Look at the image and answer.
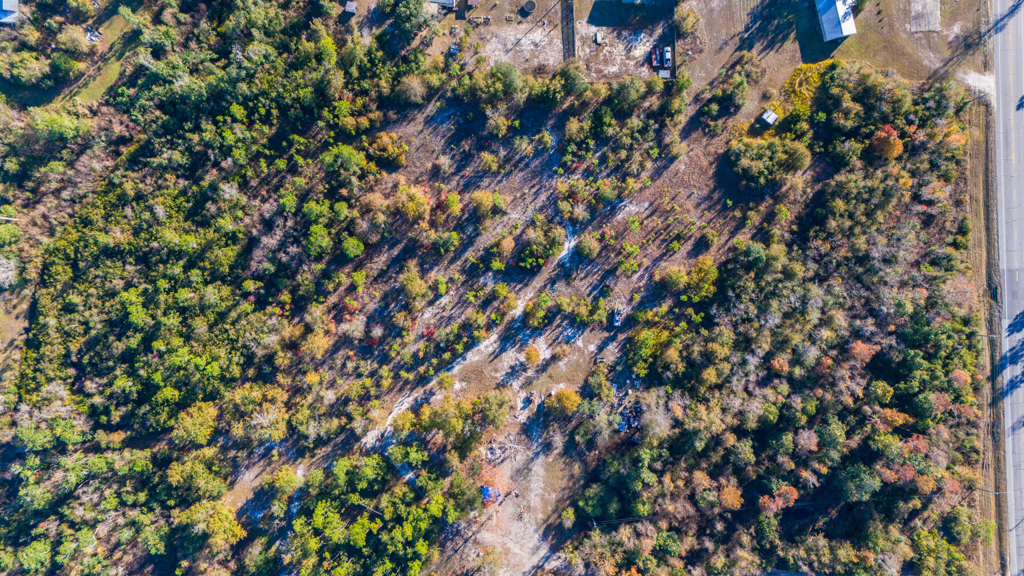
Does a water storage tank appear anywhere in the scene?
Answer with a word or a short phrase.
No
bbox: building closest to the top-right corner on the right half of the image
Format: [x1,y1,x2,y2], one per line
[811,0,857,44]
